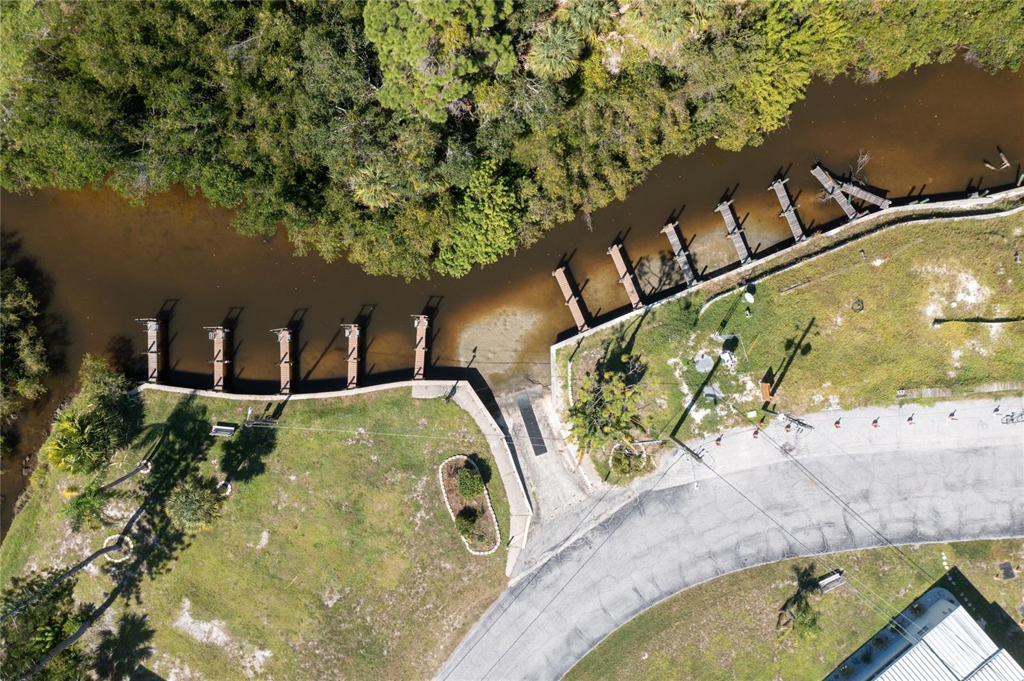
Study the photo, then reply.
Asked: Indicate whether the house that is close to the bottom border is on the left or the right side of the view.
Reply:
right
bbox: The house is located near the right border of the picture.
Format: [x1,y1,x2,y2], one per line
[848,602,1024,681]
